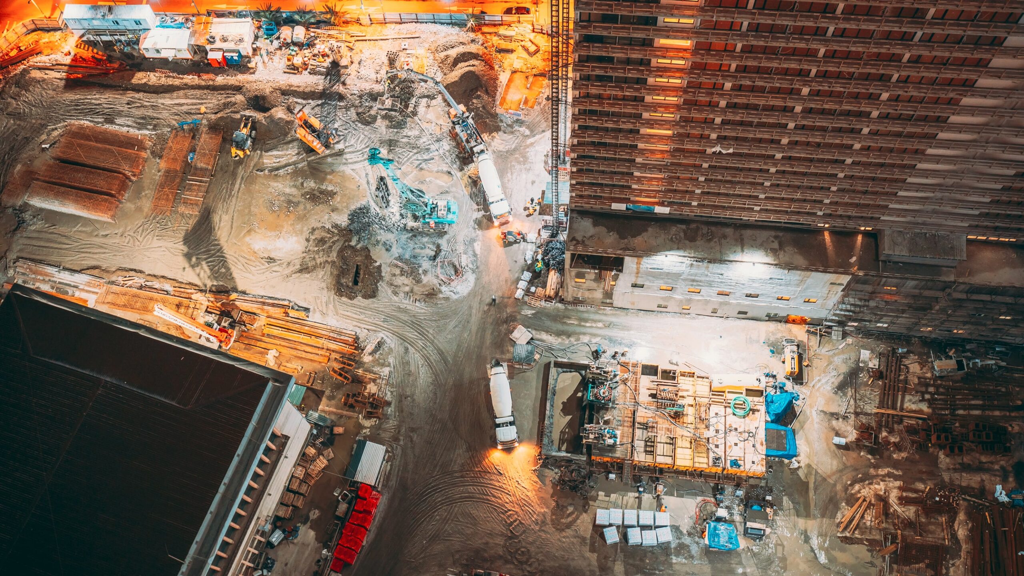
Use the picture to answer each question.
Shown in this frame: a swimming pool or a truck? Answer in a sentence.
Looking from above, you can make out a truck.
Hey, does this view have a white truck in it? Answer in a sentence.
Yes, I can see a white truck in this picture.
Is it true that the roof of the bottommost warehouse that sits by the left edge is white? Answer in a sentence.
No, the roof of the bottommost warehouse that sits by the left edge is actually black.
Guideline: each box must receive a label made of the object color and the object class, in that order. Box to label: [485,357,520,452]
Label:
white truck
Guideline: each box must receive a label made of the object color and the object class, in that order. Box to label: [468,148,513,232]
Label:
white truck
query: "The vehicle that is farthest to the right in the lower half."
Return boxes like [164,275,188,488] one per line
[781,339,799,374]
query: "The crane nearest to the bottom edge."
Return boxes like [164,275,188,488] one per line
[153,302,244,356]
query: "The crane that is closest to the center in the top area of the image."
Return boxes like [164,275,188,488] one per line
[366,144,458,241]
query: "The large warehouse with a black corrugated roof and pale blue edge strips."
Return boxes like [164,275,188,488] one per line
[0,284,296,576]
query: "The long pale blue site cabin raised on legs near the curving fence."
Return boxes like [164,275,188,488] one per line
[62,4,156,56]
